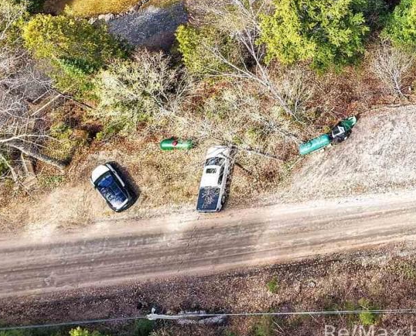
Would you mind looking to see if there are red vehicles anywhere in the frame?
No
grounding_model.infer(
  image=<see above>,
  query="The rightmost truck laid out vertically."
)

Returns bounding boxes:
[197,147,230,215]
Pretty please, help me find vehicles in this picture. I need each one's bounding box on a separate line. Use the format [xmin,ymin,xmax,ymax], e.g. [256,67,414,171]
[93,166,133,215]
[197,147,230,215]
[324,116,358,142]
